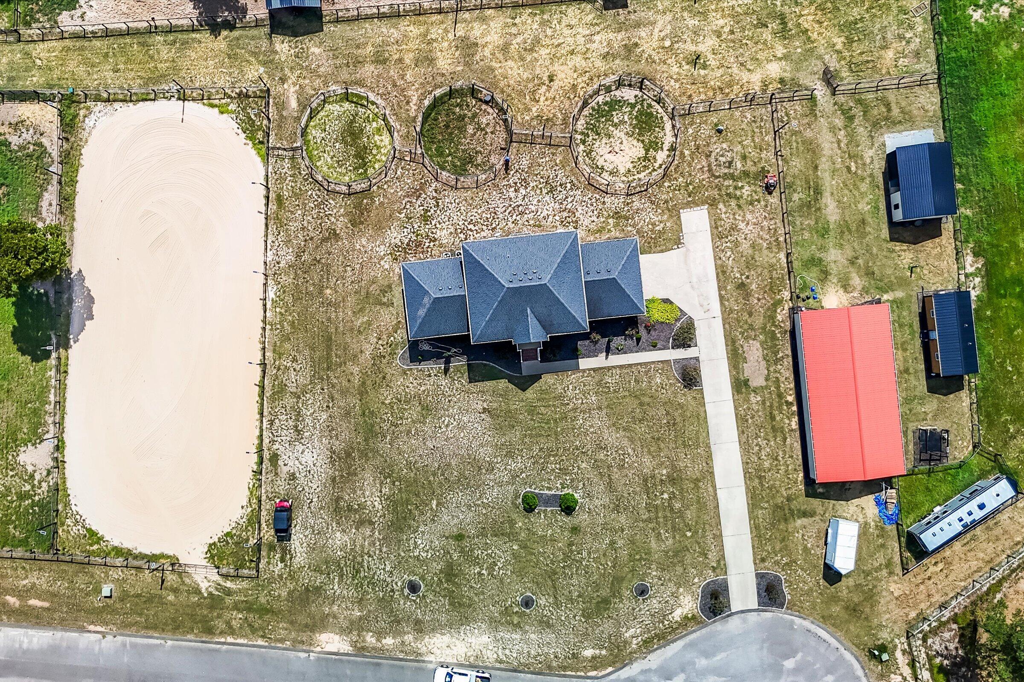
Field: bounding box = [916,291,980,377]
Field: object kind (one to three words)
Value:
building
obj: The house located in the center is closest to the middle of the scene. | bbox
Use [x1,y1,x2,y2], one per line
[400,229,647,361]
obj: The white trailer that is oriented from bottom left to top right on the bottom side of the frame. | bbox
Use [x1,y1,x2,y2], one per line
[906,473,1016,552]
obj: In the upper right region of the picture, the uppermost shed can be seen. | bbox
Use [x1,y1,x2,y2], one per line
[884,129,957,222]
